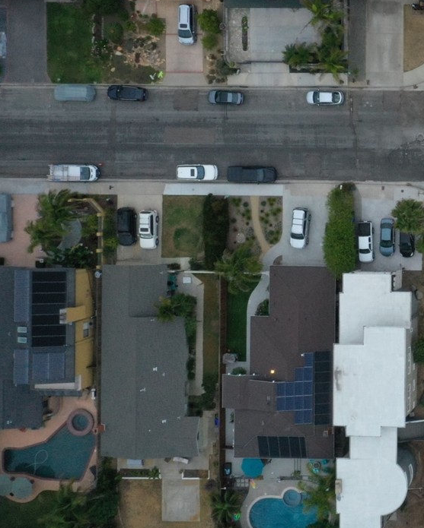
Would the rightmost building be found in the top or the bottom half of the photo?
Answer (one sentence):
Seen from above, the rightmost building lies in the bottom half of the view.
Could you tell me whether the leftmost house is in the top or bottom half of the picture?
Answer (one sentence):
The leftmost house sits in the bottom half of the picture.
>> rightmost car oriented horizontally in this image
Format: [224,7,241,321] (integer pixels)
[308,89,344,106]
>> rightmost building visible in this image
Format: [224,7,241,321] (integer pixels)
[333,266,424,528]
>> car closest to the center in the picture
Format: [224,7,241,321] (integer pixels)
[140,210,160,247]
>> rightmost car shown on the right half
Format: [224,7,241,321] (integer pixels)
[398,229,416,260]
